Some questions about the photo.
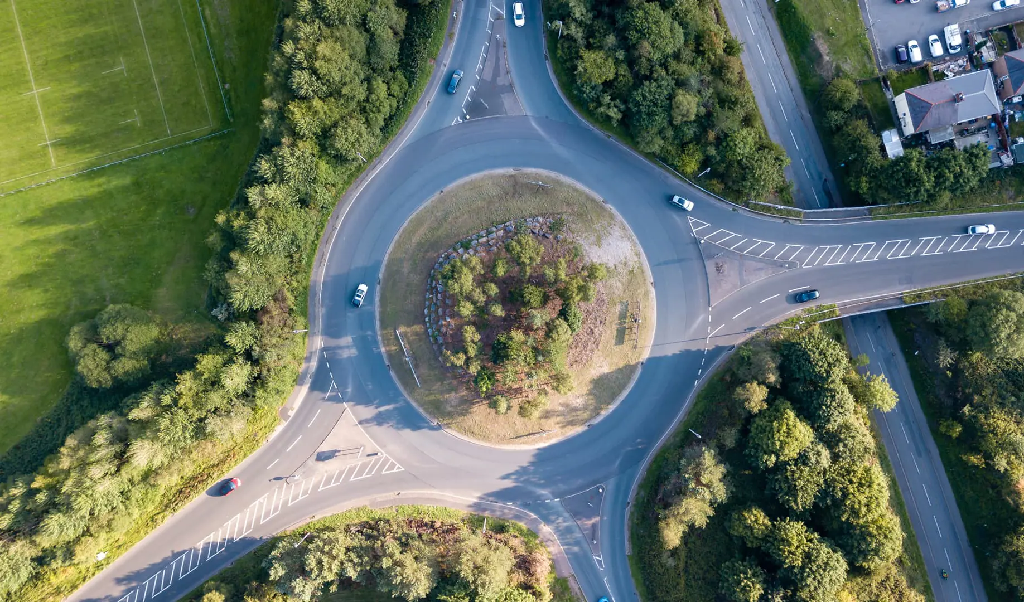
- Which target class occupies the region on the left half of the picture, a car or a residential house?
car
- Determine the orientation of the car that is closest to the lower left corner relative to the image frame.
on a diagonal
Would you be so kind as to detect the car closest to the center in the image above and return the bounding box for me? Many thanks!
[351,283,369,308]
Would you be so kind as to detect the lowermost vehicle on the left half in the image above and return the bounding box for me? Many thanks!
[218,475,241,497]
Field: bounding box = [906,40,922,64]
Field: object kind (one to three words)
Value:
car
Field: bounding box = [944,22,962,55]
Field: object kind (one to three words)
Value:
vehicle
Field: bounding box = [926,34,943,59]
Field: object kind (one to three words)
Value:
car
